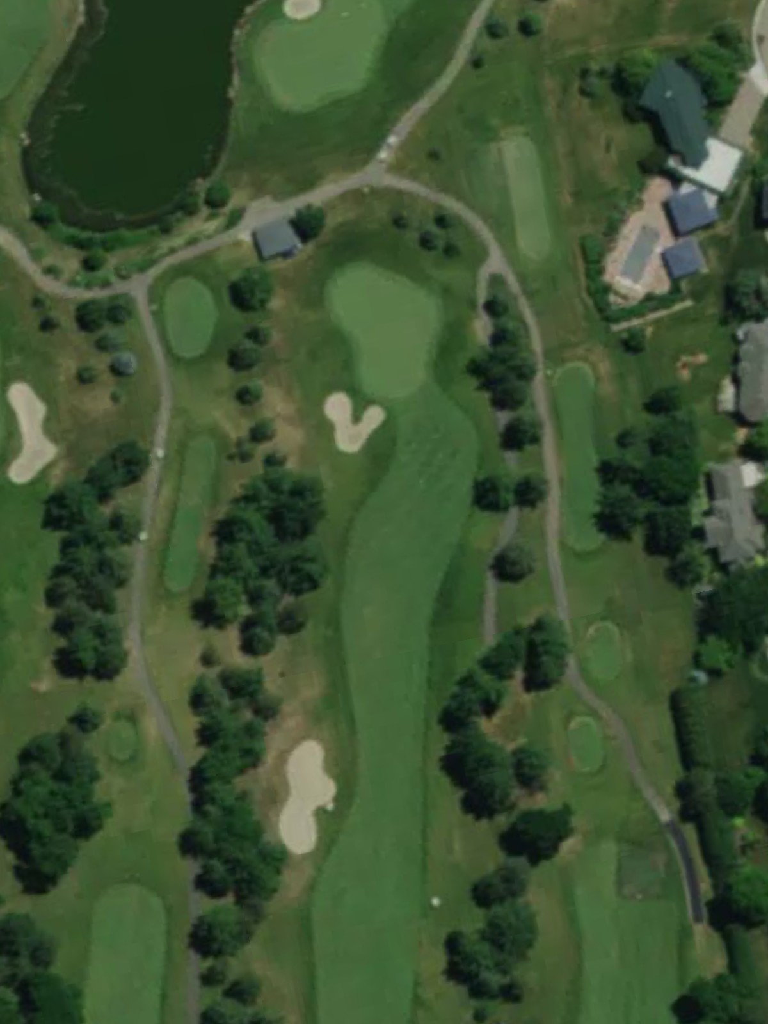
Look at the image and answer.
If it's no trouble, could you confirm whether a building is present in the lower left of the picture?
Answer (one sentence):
No, I can find no building in the lower left of the picture.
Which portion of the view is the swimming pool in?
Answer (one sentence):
The swimming pool appears toward the top right of the photo.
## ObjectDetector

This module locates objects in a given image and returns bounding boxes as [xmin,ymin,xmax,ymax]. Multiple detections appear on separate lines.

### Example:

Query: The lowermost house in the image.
[706,464,766,562]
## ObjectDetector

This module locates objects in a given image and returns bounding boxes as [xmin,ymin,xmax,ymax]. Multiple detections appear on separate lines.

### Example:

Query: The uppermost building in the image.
[641,60,710,167]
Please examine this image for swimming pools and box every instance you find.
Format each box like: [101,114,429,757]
[620,224,661,284]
